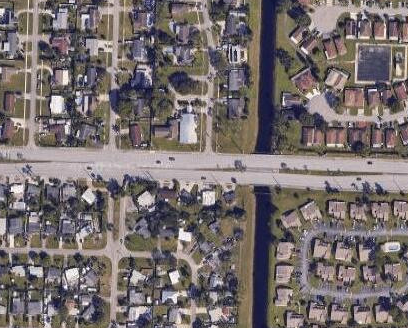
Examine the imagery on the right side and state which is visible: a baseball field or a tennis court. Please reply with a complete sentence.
It is a tennis court that can be seen on the right side.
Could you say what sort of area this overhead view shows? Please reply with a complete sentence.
This looks like a residential area.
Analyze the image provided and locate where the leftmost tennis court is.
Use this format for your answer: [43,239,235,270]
[356,44,392,83]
